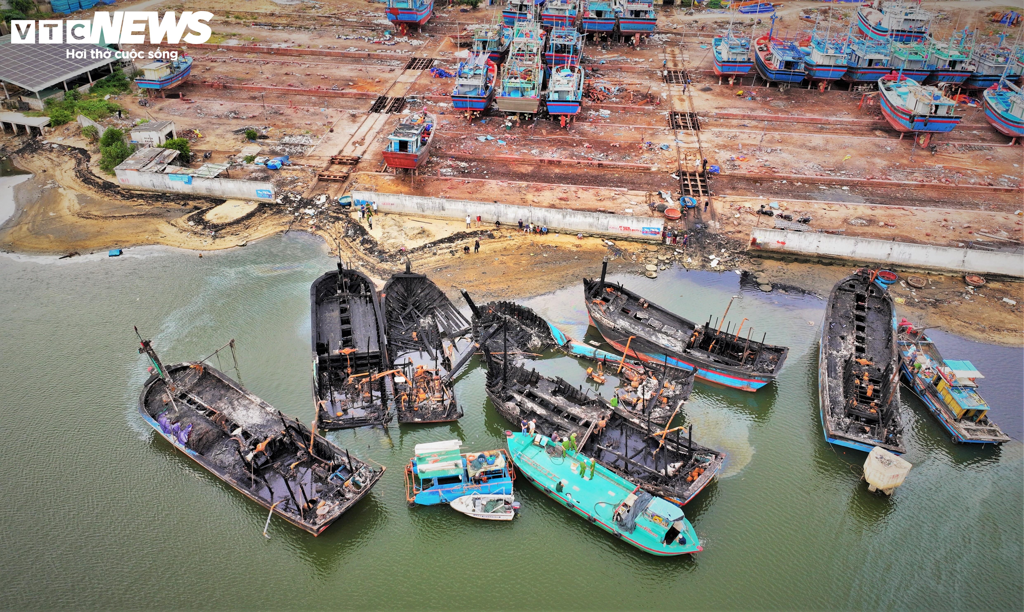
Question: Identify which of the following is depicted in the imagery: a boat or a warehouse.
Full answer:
Looking from above, you can make out a boat.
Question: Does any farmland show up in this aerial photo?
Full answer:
No, the picture contains no farmland.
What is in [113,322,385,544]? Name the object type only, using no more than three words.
boat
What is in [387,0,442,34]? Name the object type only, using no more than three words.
boat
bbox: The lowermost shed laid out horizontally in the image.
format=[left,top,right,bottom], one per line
[115,144,267,180]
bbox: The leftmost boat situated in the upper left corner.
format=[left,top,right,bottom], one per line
[138,51,208,98]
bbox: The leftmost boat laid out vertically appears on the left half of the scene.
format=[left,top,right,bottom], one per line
[309,227,399,439]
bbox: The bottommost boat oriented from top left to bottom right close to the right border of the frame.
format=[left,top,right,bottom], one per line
[903,315,1013,450]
